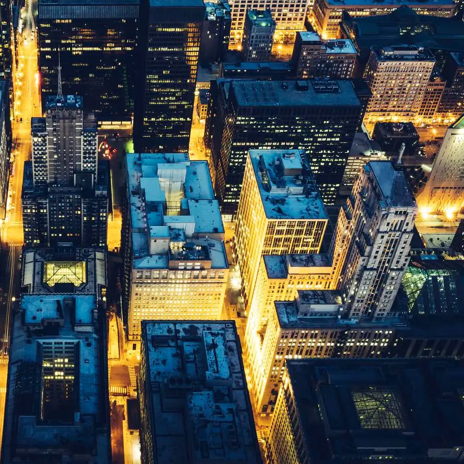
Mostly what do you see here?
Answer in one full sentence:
The largest share of the image is taken up by buildings.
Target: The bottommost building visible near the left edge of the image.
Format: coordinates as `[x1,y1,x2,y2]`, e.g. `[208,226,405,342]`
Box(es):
[1,294,114,464]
